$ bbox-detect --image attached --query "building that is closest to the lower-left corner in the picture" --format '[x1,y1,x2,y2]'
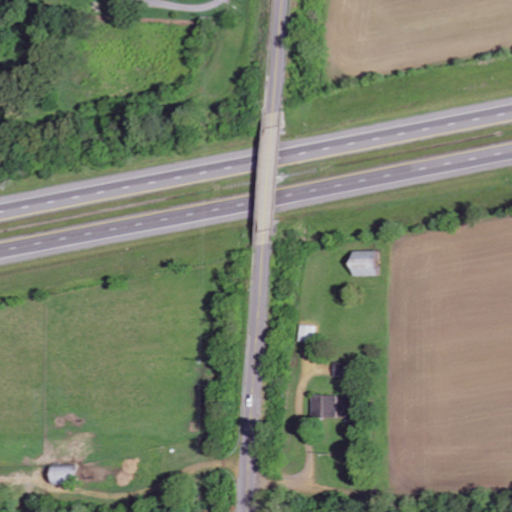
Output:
[47,464,81,486]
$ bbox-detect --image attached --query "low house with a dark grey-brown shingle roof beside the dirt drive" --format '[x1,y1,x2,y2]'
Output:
[310,394,341,420]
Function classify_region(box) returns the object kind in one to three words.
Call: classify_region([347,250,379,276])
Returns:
barn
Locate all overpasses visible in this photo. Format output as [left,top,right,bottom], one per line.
[252,112,287,244]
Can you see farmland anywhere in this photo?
Yes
